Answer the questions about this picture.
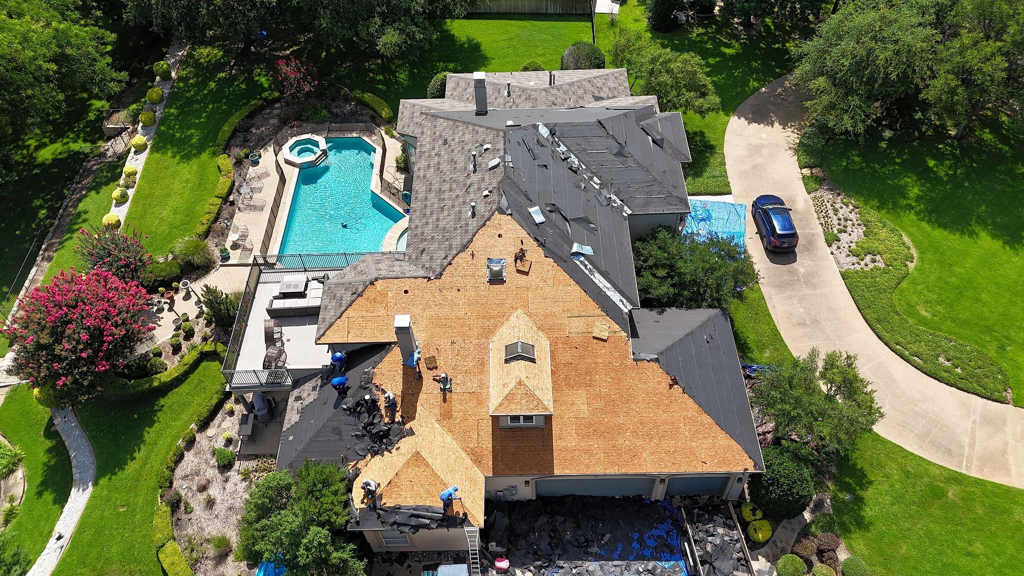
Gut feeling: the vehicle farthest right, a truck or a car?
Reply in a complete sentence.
Specifically, the vehicle farthest right is a car.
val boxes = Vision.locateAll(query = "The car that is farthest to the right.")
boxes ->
[755,195,806,258]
